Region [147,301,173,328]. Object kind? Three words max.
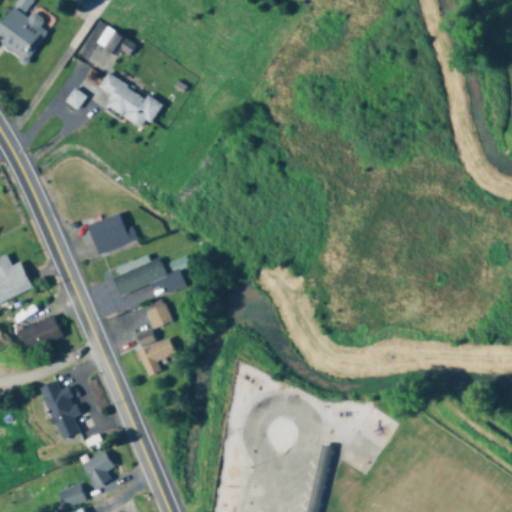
building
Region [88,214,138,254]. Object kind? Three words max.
house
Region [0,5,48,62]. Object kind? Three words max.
house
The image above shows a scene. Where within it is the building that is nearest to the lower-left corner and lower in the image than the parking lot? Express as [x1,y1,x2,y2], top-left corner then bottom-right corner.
[59,484,86,506]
